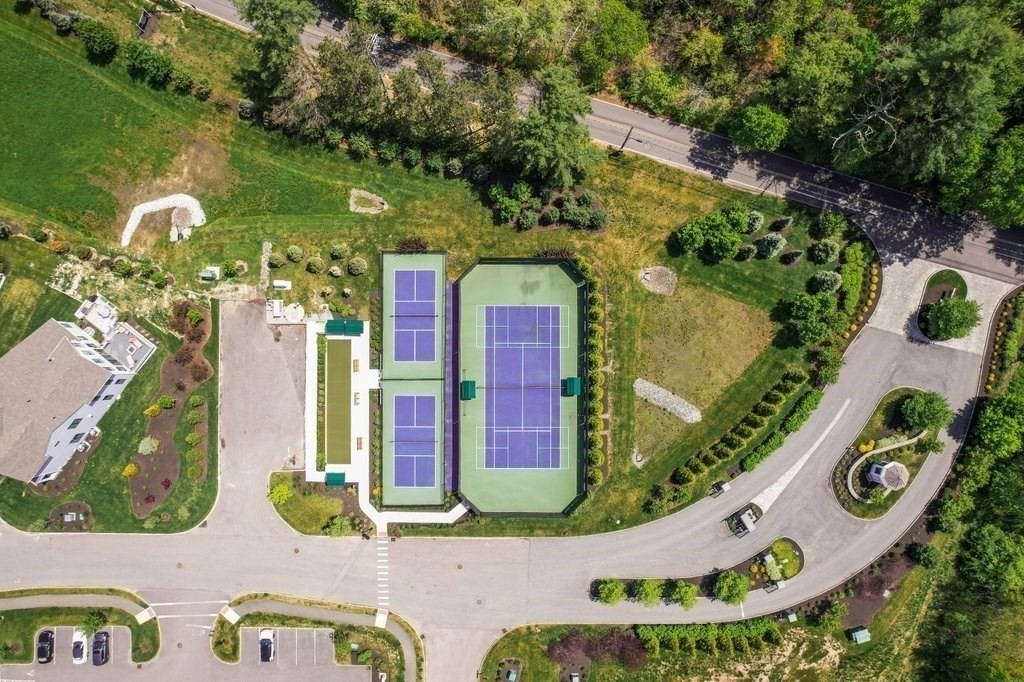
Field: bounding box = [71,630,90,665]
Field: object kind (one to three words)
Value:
car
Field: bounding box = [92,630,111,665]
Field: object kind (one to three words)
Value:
car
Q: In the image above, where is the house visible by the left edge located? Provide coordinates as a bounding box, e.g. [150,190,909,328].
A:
[0,318,156,485]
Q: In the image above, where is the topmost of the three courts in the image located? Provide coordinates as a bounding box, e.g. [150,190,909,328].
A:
[382,252,445,379]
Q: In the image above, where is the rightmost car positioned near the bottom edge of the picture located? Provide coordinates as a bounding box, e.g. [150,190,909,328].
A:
[258,628,275,662]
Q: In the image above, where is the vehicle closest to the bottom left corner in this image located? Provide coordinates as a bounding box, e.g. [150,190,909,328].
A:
[37,629,56,664]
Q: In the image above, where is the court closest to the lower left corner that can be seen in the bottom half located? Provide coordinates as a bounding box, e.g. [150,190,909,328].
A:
[382,380,445,505]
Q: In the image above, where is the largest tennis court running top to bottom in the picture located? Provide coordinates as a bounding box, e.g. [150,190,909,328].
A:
[460,259,586,514]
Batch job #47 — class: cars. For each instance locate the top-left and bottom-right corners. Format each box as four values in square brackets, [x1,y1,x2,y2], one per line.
[71,630,90,665]
[258,628,275,662]
[37,629,56,664]
[92,630,111,665]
